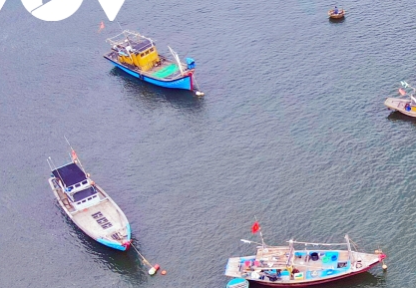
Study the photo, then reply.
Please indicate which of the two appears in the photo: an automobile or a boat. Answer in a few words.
boat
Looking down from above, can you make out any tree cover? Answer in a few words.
No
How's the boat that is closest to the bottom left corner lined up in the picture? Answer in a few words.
diagonally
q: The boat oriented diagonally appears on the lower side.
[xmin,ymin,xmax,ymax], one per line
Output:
[37,125,151,269]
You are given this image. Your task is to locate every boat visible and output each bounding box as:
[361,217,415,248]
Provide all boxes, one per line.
[223,218,386,286]
[382,80,416,118]
[328,10,345,20]
[98,23,200,91]
[37,125,151,269]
